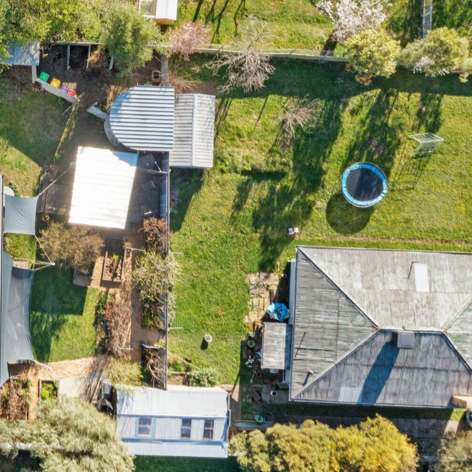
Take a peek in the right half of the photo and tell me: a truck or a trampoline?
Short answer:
trampoline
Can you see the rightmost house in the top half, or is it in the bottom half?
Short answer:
bottom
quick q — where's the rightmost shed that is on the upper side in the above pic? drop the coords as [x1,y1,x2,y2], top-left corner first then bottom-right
[168,93,214,171]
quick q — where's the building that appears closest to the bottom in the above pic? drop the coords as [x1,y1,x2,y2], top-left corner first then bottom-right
[110,383,230,458]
